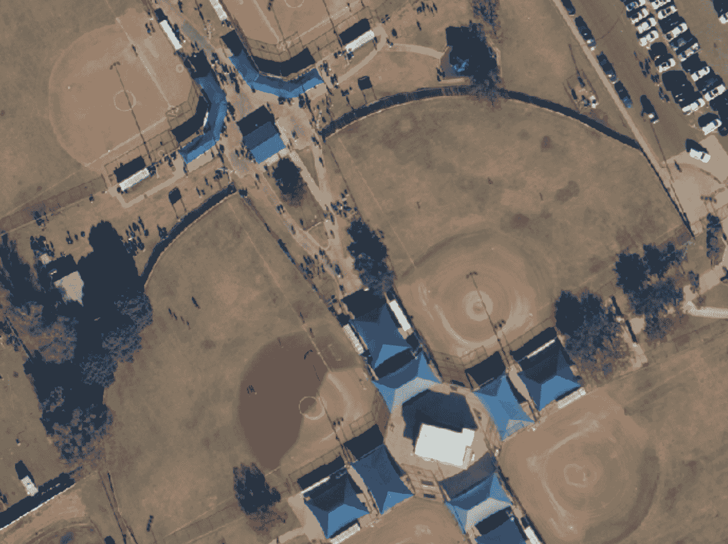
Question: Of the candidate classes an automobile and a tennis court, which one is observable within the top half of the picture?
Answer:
automobile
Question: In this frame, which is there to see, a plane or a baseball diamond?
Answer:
baseball diamond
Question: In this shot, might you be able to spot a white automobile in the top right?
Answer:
Yes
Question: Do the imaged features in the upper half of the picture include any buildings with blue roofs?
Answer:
Yes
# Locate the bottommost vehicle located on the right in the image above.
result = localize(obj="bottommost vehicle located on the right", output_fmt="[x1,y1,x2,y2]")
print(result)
[689,147,713,162]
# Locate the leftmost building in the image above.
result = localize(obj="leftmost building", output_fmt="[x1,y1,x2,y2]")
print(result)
[54,271,86,310]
